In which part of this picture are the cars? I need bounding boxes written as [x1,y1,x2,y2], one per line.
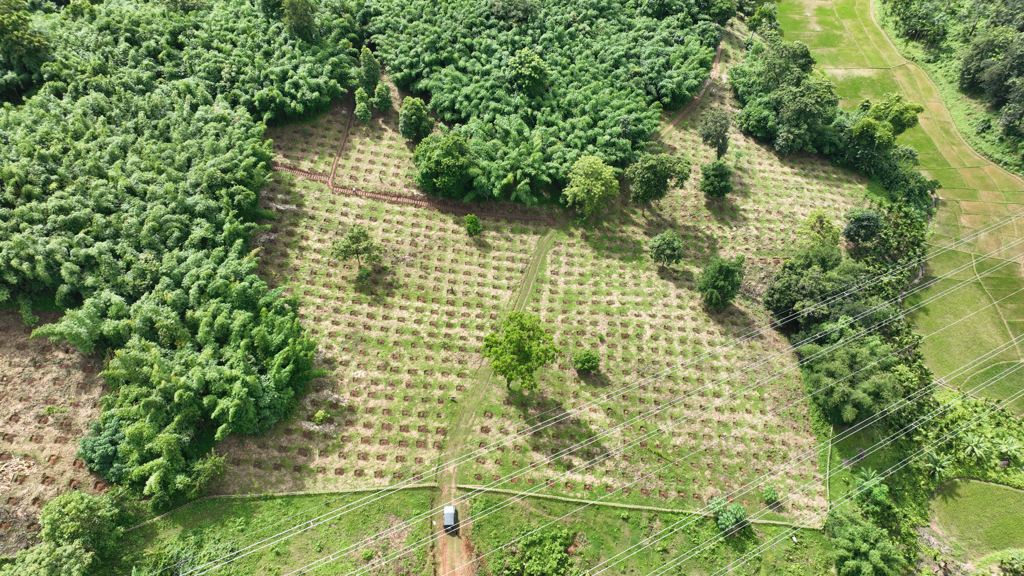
[443,507,457,533]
